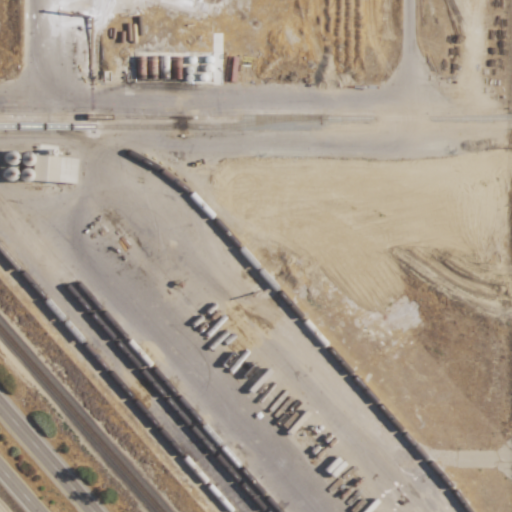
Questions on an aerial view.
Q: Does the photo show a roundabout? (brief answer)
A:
No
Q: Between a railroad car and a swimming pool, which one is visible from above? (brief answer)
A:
railroad car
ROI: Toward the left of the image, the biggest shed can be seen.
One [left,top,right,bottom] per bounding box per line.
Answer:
[32,157,80,184]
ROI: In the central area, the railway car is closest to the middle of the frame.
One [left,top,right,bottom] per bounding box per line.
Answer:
[241,246,261,268]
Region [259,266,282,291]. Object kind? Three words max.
rail car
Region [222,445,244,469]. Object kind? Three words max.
rail car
